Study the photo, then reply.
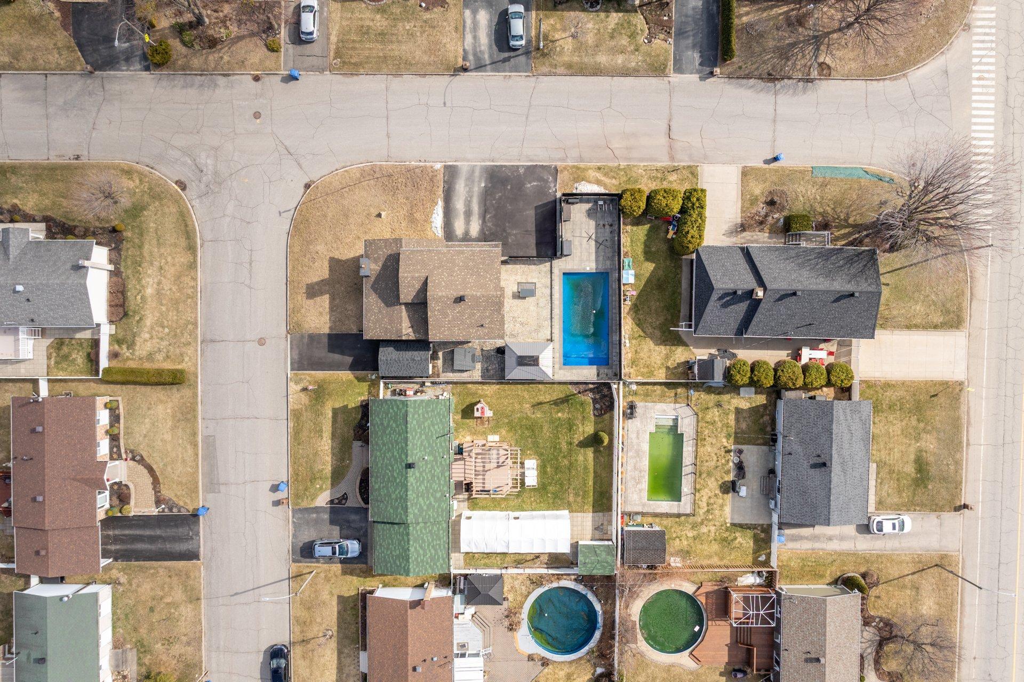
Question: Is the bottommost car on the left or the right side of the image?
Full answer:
You can find the bottommost car on the left side of the picture.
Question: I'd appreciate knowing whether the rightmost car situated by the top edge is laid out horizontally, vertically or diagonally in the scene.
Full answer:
In this picture, the rightmost car situated by the top edge lies vertically.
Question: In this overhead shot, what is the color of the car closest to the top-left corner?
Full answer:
In this view, the car closest to the top-left corner is white.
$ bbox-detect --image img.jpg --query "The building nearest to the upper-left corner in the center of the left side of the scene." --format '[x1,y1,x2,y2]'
[0,226,113,326]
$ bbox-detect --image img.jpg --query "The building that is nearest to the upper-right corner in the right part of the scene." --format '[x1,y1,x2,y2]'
[692,231,883,339]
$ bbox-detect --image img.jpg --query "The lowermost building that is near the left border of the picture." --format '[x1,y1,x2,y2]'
[13,579,138,682]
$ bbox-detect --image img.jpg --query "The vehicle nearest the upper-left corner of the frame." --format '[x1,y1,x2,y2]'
[298,0,320,42]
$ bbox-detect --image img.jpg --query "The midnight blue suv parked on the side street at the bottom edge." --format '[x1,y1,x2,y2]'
[267,645,292,682]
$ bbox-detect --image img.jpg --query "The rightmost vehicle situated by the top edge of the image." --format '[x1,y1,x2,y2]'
[505,3,526,50]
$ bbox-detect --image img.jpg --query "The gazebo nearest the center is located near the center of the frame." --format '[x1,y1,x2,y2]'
[504,341,553,380]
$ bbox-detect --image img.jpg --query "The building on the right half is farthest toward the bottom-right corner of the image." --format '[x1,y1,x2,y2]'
[771,584,861,682]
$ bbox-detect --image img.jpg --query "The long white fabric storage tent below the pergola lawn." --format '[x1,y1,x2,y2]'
[461,506,570,551]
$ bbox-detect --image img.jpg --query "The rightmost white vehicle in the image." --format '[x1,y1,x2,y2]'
[868,515,914,538]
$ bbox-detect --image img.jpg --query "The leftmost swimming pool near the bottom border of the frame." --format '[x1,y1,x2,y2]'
[514,580,604,663]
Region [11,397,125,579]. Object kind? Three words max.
house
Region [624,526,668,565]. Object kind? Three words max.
shed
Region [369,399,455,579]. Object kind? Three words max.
building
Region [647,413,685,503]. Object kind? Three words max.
swimming pool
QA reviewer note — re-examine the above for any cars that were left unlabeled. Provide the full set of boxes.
[505,3,526,50]
[313,537,361,561]
[868,515,914,538]
[298,0,320,42]
[267,645,292,682]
